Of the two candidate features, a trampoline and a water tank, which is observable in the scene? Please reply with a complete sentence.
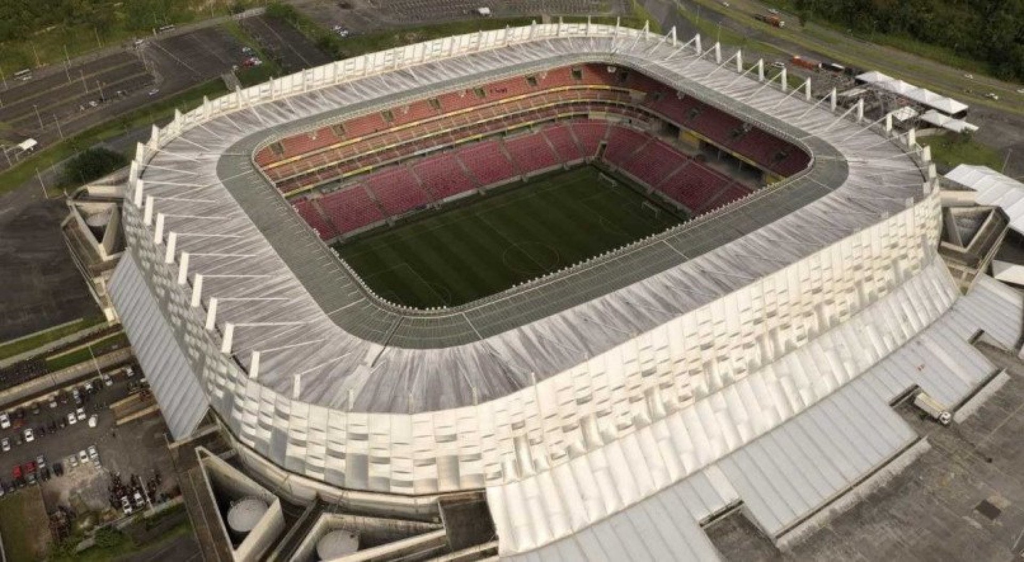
This aerial view contains a water tank.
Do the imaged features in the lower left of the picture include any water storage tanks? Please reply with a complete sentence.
Yes, you'll find a water storage tank in the lower left of the picture.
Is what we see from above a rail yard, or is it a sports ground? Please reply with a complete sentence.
The picture captures a sports ground.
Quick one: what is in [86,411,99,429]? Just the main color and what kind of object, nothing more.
white vehicle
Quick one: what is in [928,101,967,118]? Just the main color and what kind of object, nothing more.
white tent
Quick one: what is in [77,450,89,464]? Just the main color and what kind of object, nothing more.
white vehicle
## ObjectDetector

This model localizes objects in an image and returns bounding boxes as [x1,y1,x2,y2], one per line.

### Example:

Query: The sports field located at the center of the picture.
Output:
[344,169,678,310]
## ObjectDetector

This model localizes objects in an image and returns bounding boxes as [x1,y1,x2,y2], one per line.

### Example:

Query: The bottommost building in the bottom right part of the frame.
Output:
[479,279,1024,562]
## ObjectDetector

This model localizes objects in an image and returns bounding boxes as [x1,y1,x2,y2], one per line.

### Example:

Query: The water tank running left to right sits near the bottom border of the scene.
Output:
[314,531,365,560]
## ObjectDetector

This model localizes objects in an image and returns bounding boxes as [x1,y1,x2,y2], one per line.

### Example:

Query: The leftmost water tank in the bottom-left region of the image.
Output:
[224,496,265,544]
